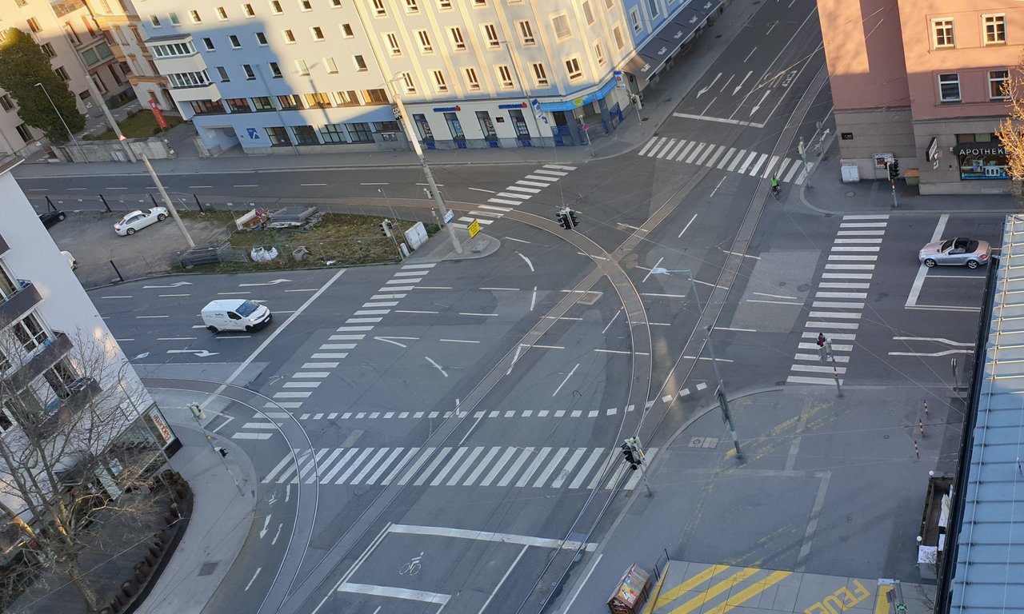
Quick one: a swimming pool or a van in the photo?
van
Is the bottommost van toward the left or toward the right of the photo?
left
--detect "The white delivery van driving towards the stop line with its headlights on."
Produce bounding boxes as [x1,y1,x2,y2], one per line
[195,296,273,333]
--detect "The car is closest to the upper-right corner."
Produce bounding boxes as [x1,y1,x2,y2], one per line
[917,235,990,268]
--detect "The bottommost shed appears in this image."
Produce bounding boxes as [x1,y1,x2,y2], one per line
[605,562,656,614]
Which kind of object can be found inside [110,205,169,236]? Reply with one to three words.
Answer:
car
